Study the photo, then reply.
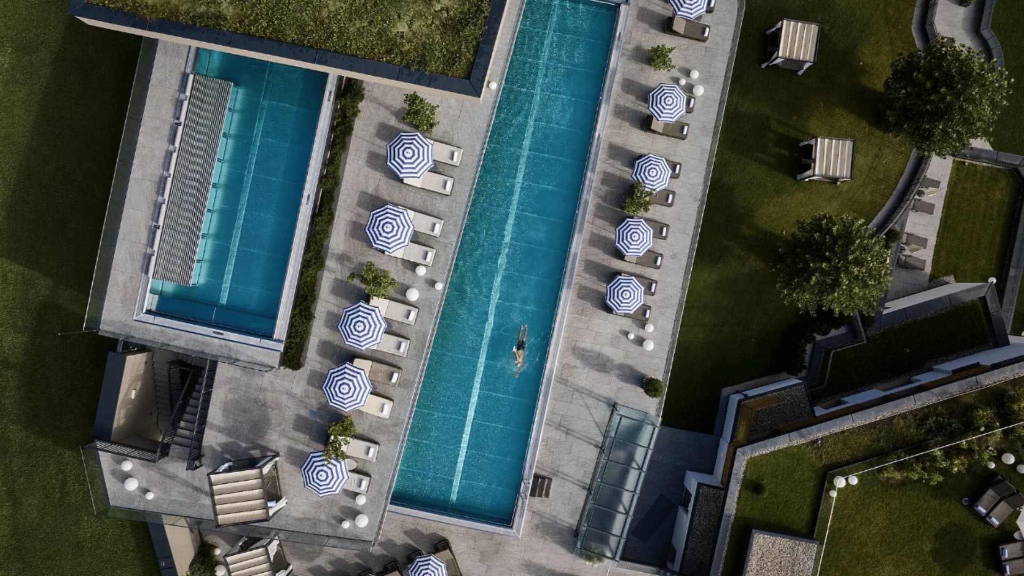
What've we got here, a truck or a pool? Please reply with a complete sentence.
Visible in the photo is a pool.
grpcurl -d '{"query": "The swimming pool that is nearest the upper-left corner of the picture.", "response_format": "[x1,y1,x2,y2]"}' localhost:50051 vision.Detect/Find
[132,44,339,351]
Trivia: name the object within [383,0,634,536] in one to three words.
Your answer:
swimming pool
